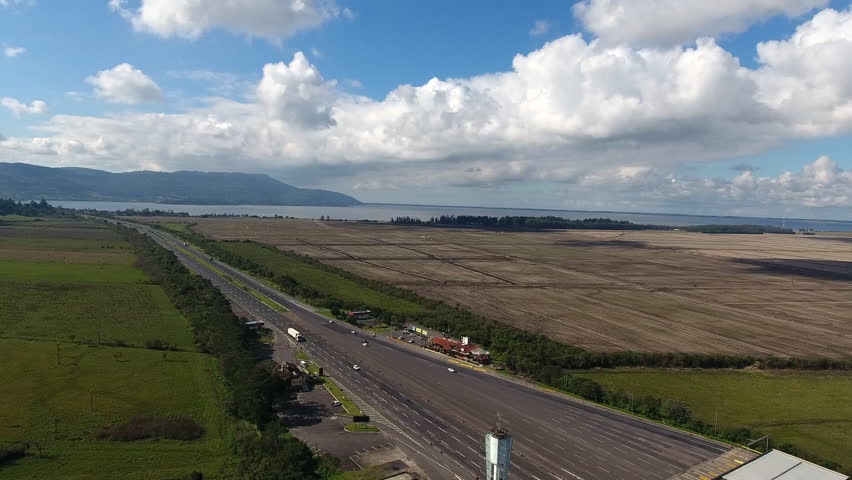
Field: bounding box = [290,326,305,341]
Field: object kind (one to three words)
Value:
vehicle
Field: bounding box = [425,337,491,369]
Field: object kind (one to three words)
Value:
building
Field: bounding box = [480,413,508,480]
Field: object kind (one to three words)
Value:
water tower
